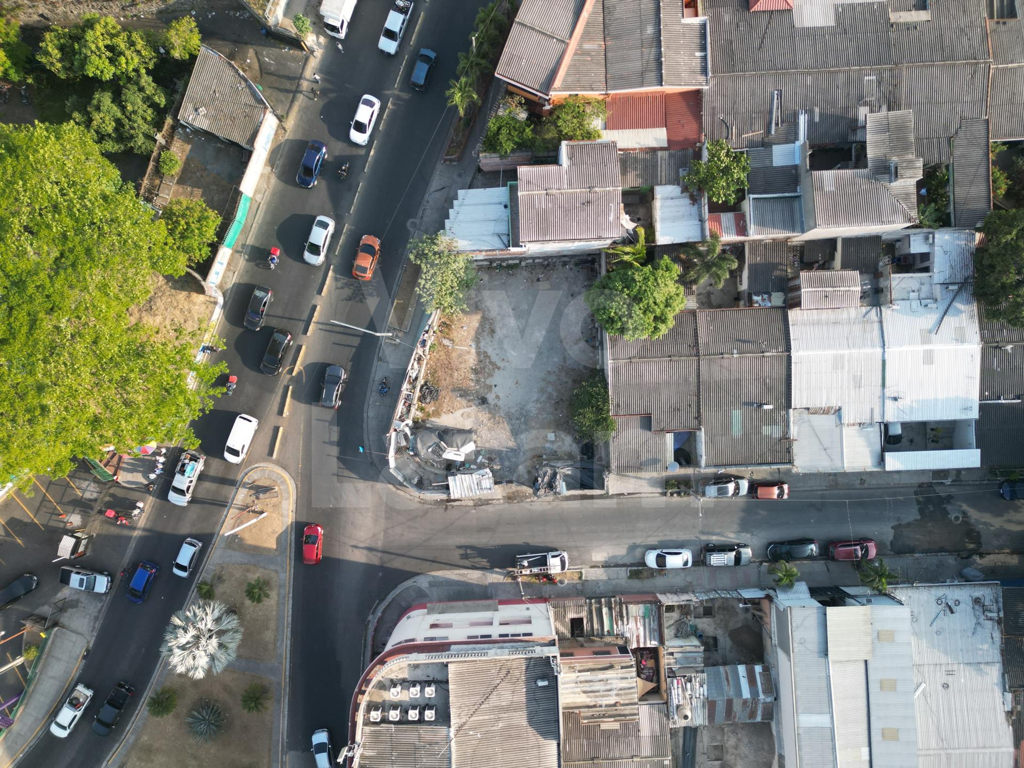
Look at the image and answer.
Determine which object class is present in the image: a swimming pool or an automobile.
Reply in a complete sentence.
The image shows an automobile.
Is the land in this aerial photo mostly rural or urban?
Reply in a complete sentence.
The land in this view is best described as urban.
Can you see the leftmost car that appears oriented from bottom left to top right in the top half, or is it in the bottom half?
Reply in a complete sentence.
You can find the leftmost car that appears oriented from bottom left to top right in the bottom half.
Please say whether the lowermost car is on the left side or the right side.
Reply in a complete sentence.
The lowermost car sits on the left side.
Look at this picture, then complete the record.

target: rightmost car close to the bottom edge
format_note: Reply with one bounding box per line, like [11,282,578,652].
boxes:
[310,727,340,768]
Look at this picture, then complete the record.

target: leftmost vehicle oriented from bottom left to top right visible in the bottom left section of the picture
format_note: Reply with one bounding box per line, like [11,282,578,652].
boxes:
[0,570,43,613]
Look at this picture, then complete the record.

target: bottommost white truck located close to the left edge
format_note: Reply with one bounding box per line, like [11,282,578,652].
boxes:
[50,680,98,740]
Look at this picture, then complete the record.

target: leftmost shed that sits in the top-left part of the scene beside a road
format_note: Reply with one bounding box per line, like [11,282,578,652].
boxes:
[179,43,286,153]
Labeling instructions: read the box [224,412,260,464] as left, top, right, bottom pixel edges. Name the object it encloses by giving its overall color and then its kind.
white van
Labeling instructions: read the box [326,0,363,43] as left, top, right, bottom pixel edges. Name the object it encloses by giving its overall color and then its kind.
white truck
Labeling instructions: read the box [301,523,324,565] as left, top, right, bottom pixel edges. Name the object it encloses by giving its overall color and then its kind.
red car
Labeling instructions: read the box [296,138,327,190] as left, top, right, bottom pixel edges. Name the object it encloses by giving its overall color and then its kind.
blue car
